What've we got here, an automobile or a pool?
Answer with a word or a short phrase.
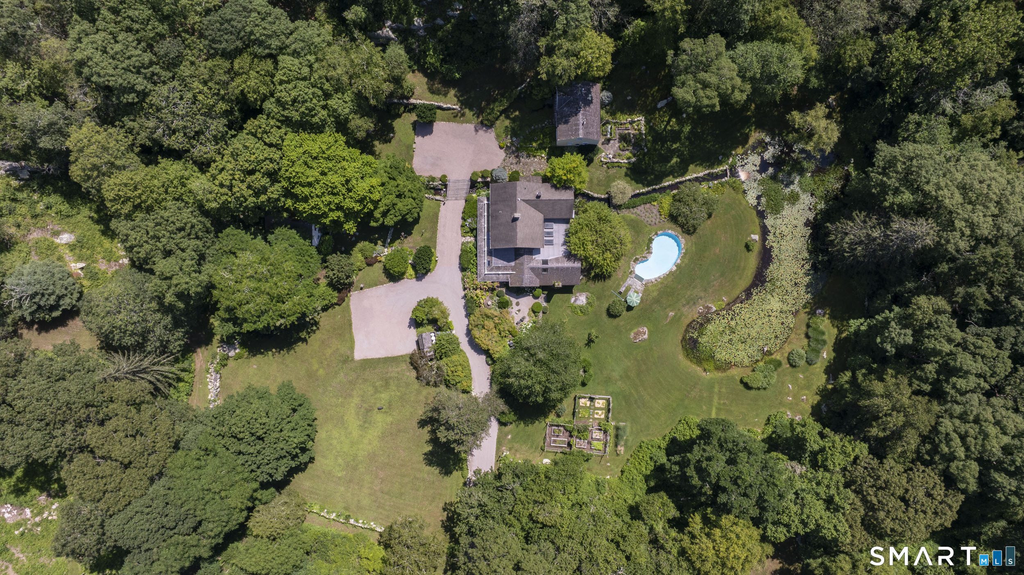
pool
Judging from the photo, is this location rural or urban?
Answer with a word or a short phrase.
rural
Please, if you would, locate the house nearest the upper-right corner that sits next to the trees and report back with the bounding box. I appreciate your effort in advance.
[552,77,600,145]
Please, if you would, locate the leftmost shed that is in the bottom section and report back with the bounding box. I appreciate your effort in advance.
[416,334,435,358]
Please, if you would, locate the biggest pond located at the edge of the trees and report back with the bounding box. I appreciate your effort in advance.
[683,137,848,369]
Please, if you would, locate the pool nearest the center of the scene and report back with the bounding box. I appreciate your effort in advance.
[629,227,687,285]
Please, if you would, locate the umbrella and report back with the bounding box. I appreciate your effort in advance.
[626,292,640,306]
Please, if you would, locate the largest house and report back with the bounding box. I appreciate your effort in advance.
[477,177,581,286]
